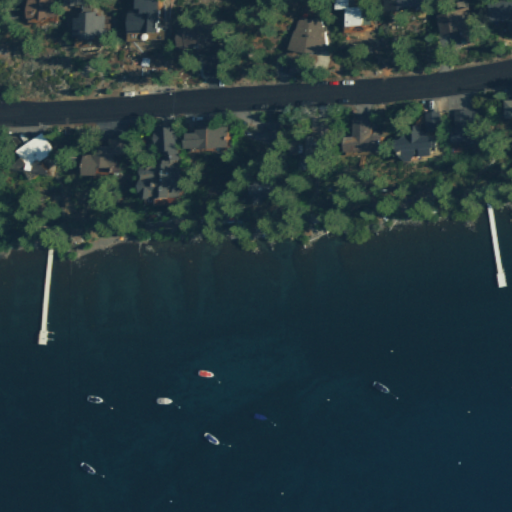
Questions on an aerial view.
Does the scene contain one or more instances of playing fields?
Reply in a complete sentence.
No, the scene contains no playing field.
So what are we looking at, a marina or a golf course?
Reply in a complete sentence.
It's a marina.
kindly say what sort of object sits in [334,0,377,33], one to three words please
house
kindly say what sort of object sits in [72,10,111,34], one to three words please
house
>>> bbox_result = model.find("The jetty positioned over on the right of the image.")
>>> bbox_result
[488,206,506,288]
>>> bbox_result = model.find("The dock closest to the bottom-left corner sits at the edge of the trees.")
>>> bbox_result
[39,251,54,344]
